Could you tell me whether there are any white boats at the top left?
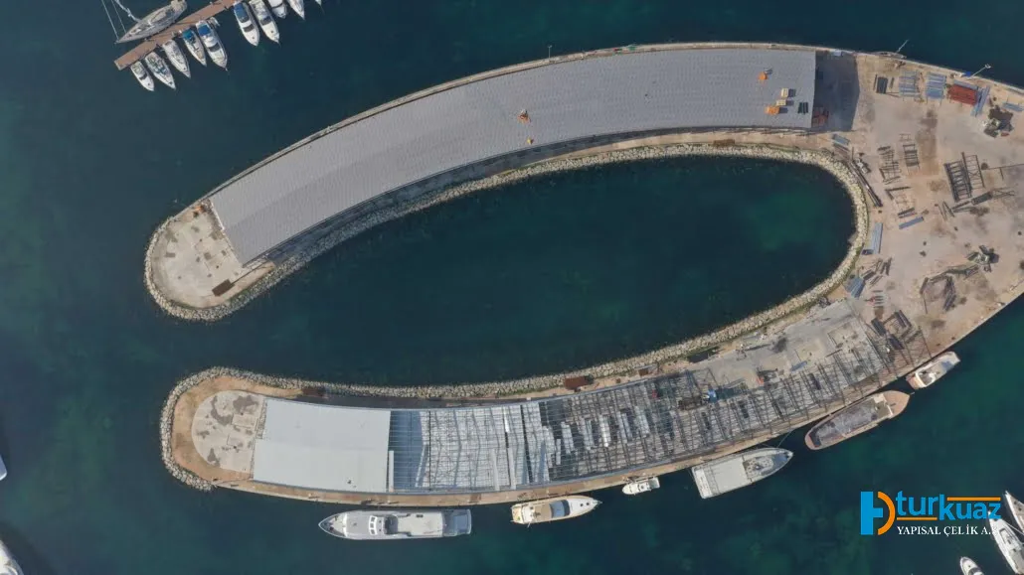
Yes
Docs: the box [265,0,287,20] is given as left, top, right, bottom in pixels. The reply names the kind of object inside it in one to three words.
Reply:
boat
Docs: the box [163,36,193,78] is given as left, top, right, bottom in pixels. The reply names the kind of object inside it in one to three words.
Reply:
boat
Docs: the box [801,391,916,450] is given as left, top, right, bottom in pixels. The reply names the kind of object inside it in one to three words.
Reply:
vessel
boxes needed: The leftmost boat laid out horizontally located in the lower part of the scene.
[319,508,472,540]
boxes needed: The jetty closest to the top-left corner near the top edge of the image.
[114,0,250,71]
